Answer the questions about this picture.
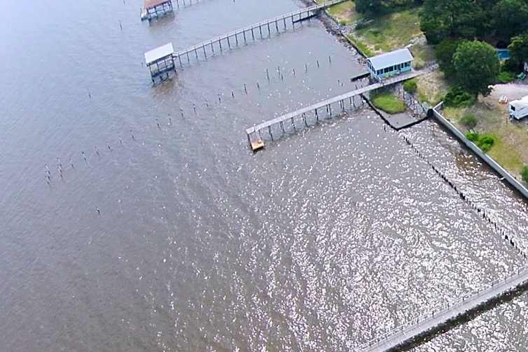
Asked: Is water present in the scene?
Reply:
Yes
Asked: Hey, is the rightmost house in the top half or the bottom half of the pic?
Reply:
top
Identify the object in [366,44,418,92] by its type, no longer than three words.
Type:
house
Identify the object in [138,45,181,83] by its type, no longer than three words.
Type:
building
